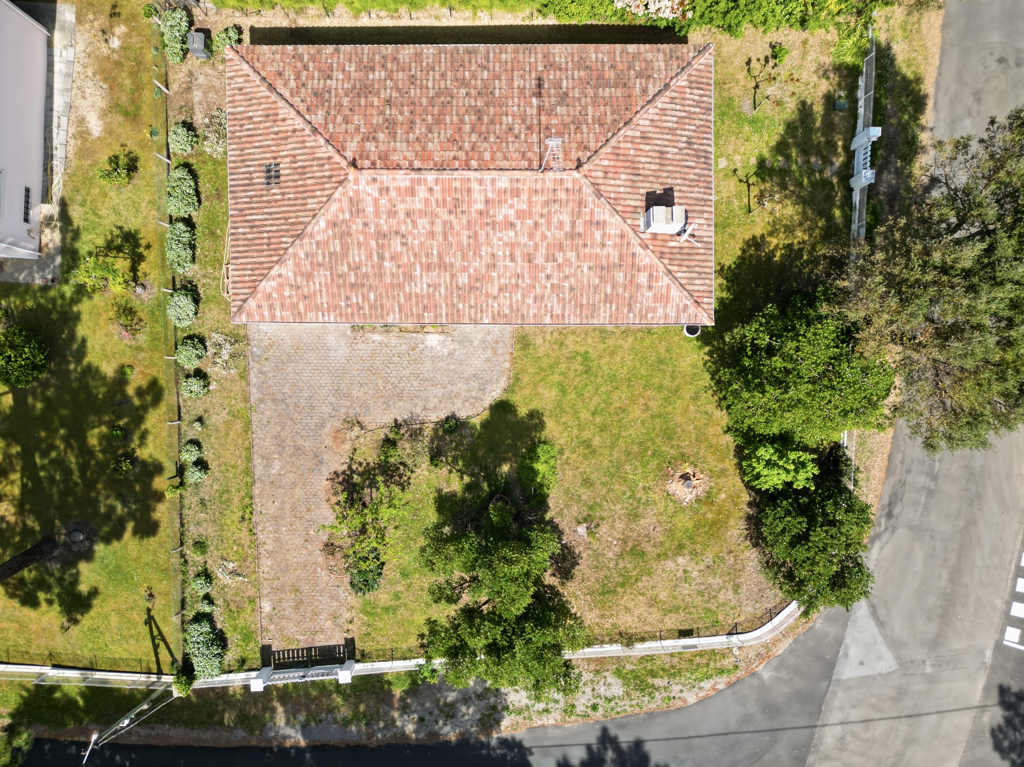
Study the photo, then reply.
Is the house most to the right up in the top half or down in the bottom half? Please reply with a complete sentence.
You can find the house most to the right in the top half.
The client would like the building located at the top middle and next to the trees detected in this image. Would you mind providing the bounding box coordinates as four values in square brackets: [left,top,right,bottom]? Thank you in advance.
[221,40,718,328]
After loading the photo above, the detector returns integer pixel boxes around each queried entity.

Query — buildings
[0,0,52,255]
[221,40,718,328]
